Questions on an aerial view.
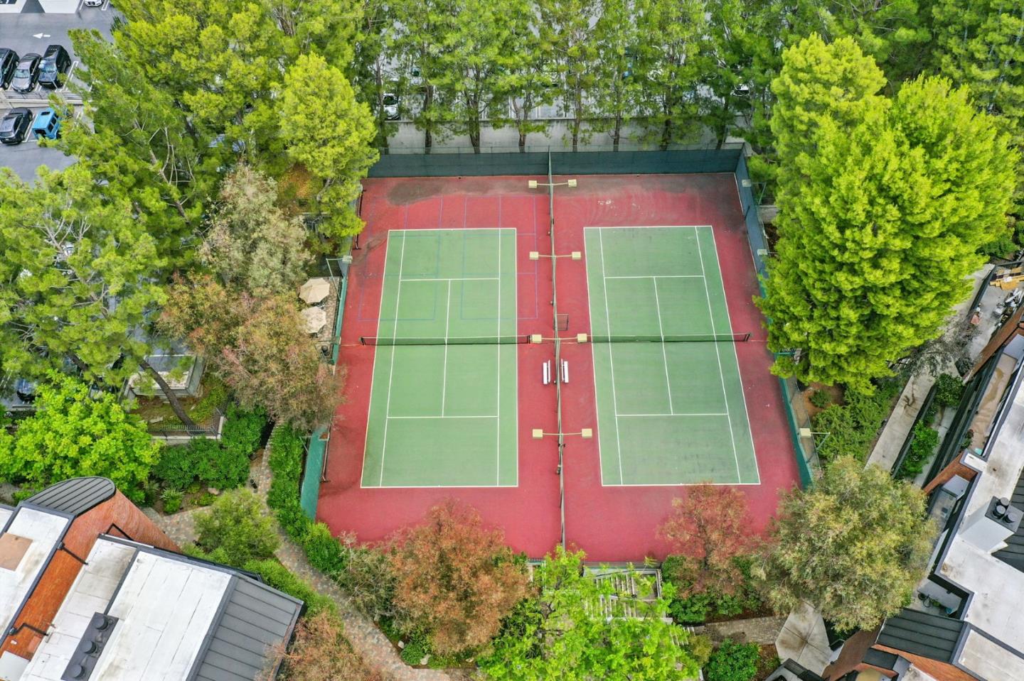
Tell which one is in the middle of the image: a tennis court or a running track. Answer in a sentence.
What appears in the middle of the image is a tennis court.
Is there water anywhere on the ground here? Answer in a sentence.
No, the scene doesn't show any water.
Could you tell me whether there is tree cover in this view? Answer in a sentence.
Yes, there's tree cover in this view.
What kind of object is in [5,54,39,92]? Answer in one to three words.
car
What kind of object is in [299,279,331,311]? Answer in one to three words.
umbrella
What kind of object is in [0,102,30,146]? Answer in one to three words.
car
